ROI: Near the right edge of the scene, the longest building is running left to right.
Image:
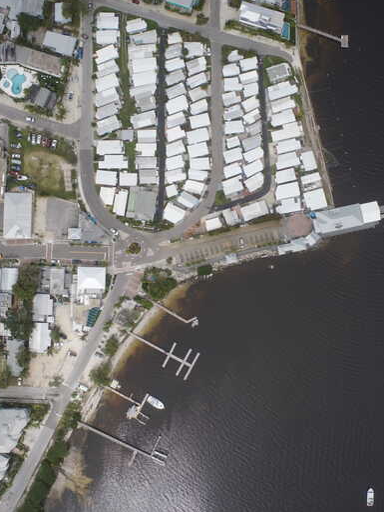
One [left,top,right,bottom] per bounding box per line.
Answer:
[313,200,381,237]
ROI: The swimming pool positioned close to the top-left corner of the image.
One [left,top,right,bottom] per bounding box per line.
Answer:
[0,65,42,98]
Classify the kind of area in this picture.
residential area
